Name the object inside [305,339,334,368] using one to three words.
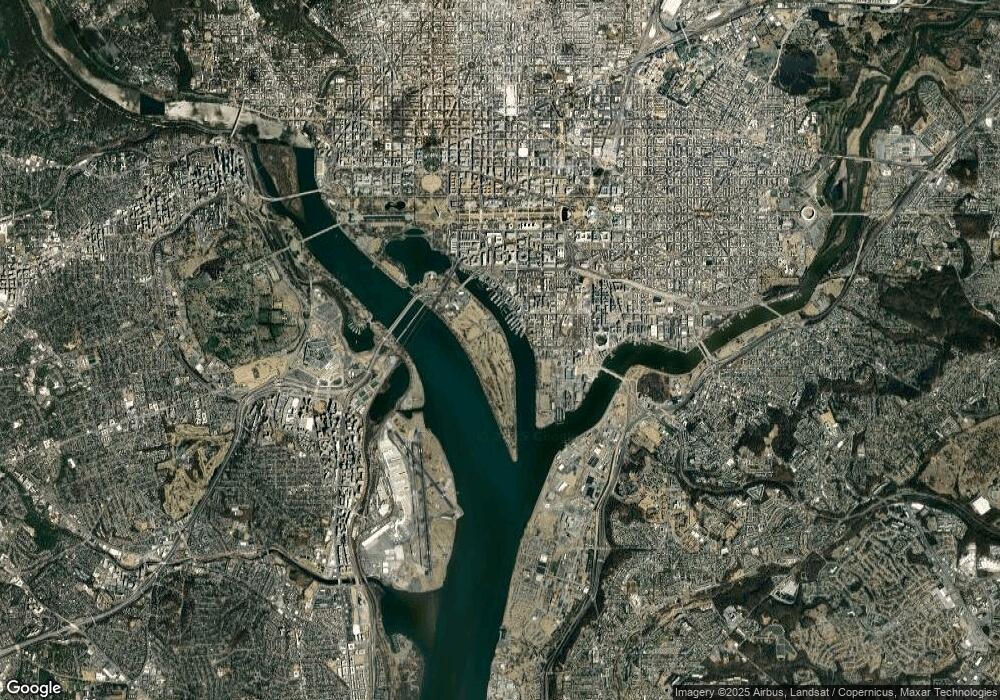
building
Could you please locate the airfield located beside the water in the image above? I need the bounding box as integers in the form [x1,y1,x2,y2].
[361,422,463,574]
